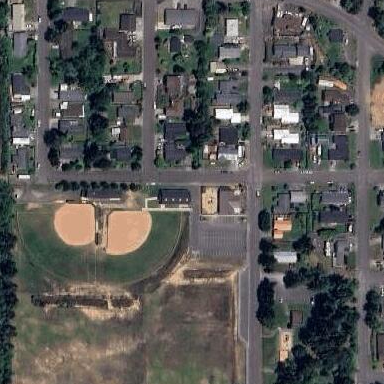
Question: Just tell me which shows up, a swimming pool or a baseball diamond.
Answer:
baseball diamond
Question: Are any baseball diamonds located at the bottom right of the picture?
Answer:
No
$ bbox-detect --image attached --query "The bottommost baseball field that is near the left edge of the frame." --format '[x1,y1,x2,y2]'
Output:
[18,201,96,286]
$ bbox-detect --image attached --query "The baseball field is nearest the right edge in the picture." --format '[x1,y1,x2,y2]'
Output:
[88,209,187,286]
